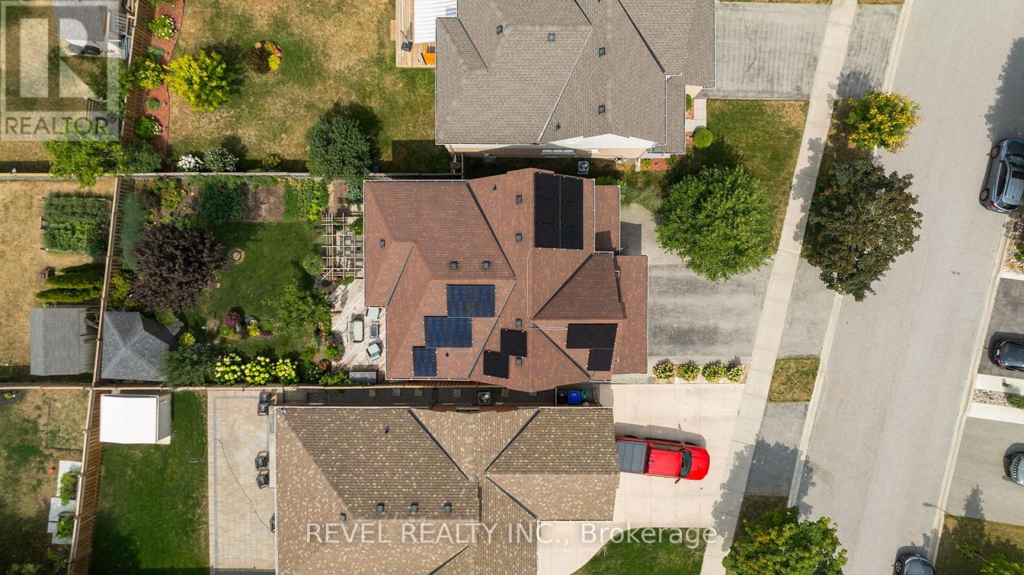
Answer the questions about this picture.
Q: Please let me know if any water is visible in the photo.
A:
No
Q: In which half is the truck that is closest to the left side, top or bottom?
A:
bottom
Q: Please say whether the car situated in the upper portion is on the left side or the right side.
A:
right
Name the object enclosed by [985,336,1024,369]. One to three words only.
car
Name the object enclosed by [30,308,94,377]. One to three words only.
shed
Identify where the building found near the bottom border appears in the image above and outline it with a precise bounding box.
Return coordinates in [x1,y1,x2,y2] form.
[274,398,620,575]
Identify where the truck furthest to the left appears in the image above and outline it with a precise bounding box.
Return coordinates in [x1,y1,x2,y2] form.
[617,440,710,488]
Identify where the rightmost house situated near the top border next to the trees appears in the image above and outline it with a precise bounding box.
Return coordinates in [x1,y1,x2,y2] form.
[435,0,717,162]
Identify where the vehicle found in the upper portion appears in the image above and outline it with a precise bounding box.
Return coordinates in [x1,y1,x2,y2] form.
[978,136,1024,214]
